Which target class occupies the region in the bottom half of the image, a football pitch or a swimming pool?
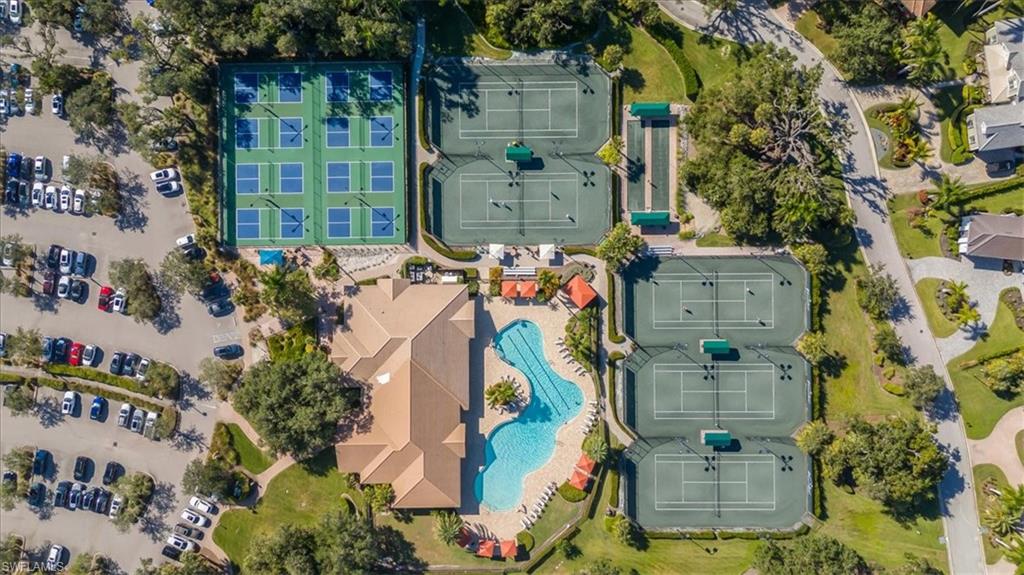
swimming pool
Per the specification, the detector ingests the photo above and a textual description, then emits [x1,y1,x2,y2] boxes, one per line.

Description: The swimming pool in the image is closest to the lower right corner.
[473,318,586,513]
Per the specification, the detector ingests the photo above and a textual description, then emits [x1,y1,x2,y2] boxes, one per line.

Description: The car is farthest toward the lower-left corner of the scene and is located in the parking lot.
[49,541,64,566]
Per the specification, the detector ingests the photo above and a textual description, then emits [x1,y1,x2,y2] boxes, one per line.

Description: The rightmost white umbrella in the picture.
[540,244,555,259]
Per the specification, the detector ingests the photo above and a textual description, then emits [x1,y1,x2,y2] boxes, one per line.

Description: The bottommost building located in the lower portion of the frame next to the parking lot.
[326,279,475,509]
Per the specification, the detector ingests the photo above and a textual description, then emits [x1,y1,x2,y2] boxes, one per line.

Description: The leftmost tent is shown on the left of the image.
[259,250,287,265]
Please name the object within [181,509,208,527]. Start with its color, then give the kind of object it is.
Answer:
white car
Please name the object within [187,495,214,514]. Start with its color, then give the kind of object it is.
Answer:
white vehicle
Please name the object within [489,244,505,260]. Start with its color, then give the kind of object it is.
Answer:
white umbrella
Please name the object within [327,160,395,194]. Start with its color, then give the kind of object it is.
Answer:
blue sports court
